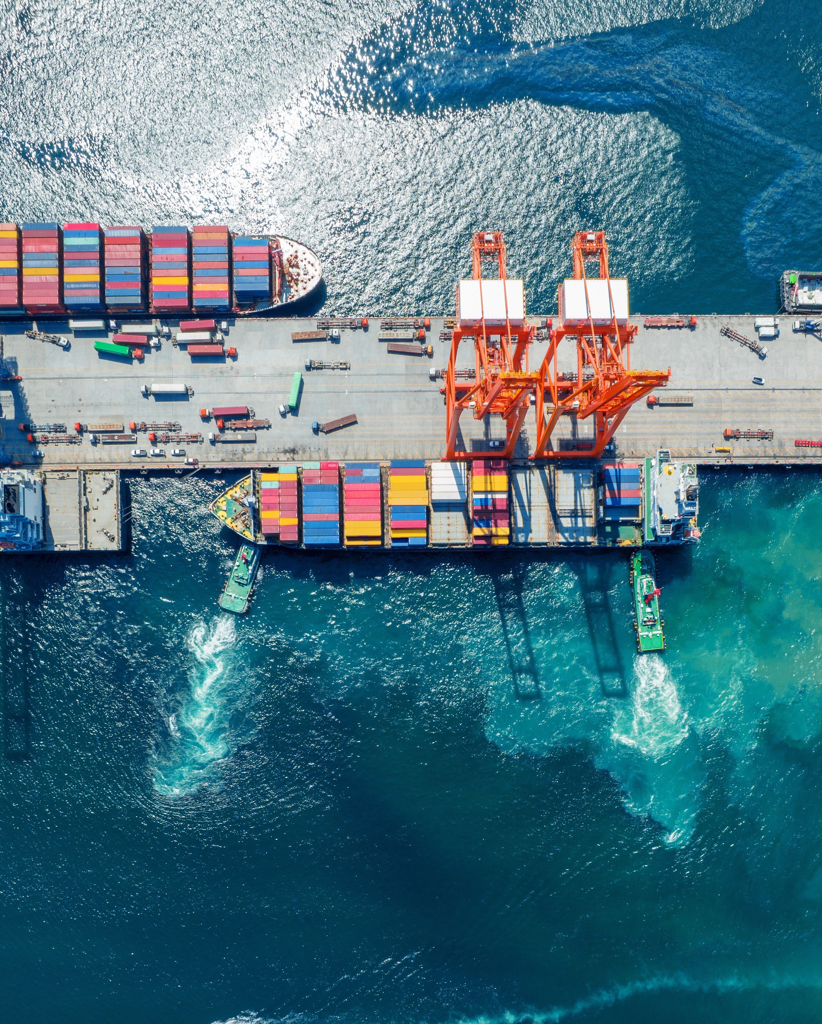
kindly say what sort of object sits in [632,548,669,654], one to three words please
boat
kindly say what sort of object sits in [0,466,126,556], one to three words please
ship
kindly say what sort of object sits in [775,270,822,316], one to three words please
ship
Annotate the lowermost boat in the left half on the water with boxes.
[218,535,263,616]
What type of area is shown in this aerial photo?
port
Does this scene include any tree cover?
No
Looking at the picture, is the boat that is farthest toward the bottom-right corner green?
Yes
